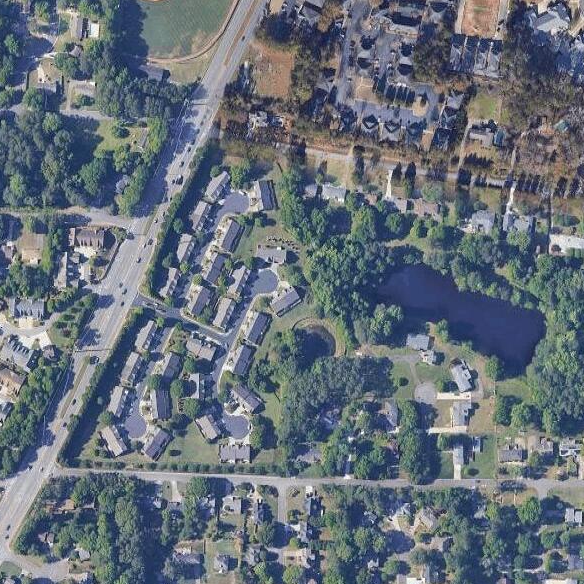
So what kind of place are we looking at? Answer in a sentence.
What you see here is a residential area.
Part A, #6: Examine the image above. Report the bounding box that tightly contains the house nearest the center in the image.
[273,290,303,316]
